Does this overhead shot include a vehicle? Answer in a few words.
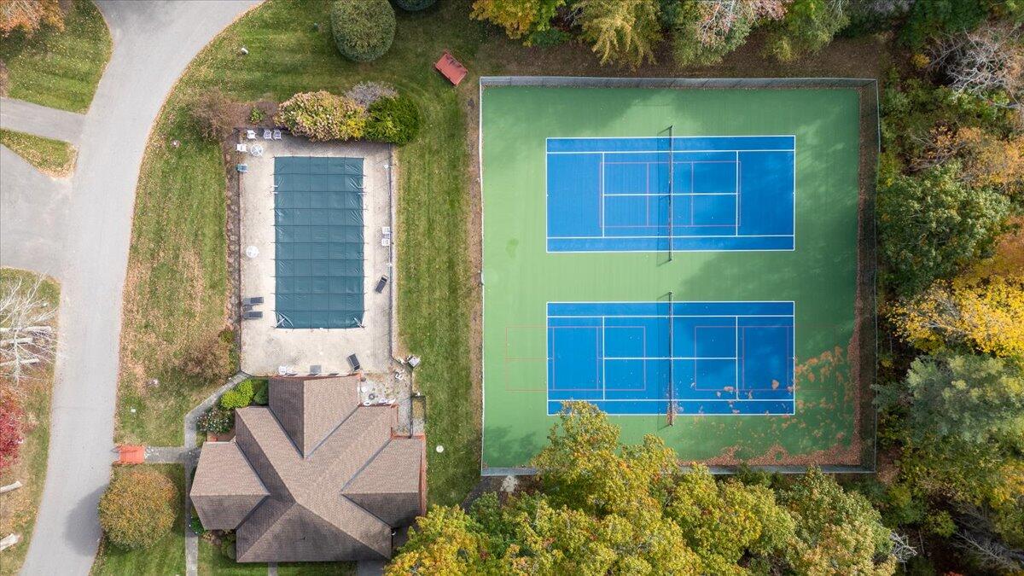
No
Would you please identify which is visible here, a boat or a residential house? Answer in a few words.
residential house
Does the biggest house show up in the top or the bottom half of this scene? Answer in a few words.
bottom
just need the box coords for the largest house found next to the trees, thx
[190,372,425,562]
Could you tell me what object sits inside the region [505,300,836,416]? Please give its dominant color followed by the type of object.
blue tennis court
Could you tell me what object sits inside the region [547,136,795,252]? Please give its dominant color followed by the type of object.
blue tennis court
